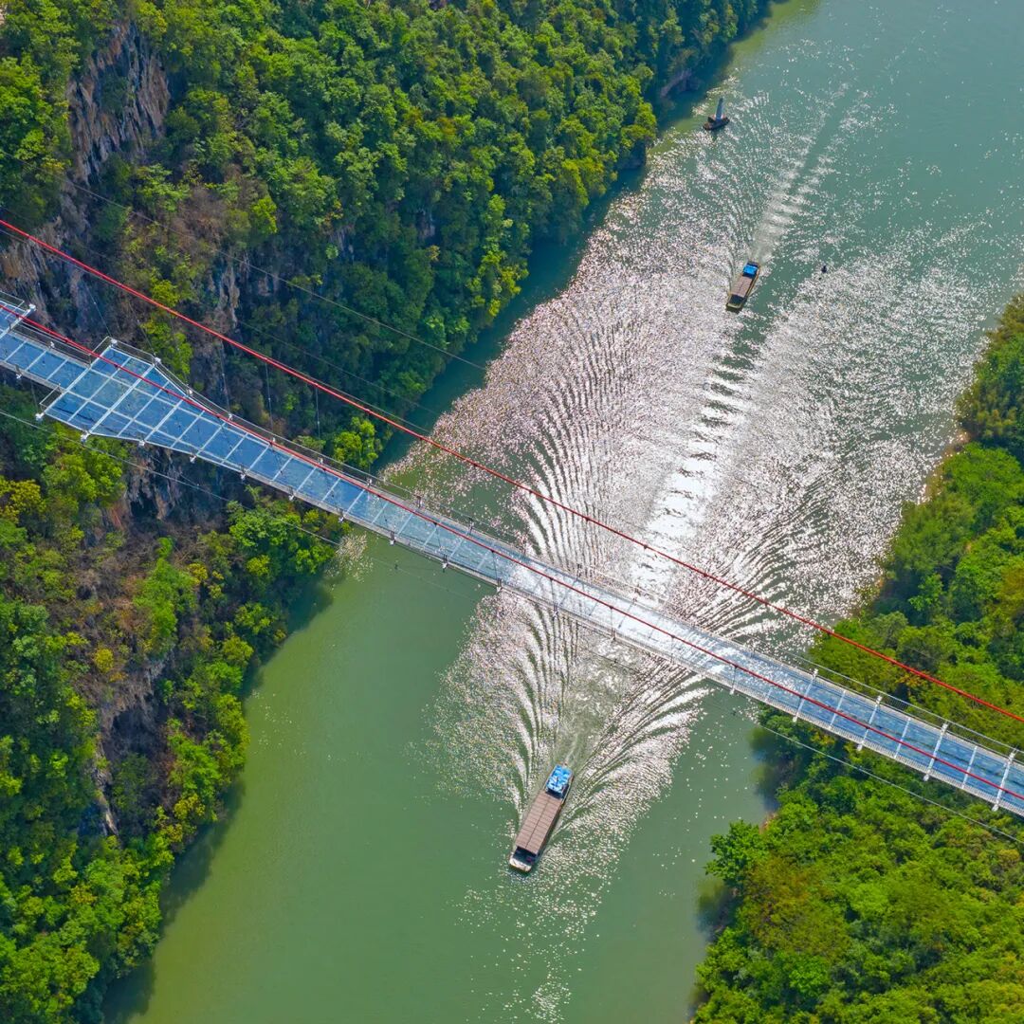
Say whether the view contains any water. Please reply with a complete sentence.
Yes, some water is visible.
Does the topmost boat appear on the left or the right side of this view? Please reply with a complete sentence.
You can find the topmost boat on the right side of the picture.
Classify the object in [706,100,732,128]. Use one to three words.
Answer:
boat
